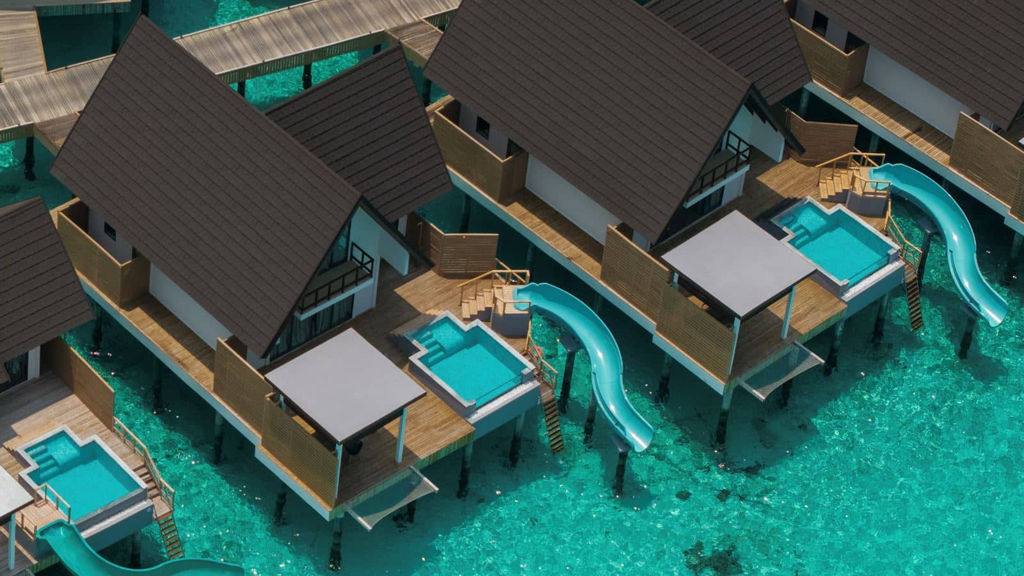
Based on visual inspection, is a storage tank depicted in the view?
No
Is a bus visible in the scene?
No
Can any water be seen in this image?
Yes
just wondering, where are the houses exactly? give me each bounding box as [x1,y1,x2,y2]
[423,0,889,438]
[778,0,1024,280]
[47,11,530,564]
